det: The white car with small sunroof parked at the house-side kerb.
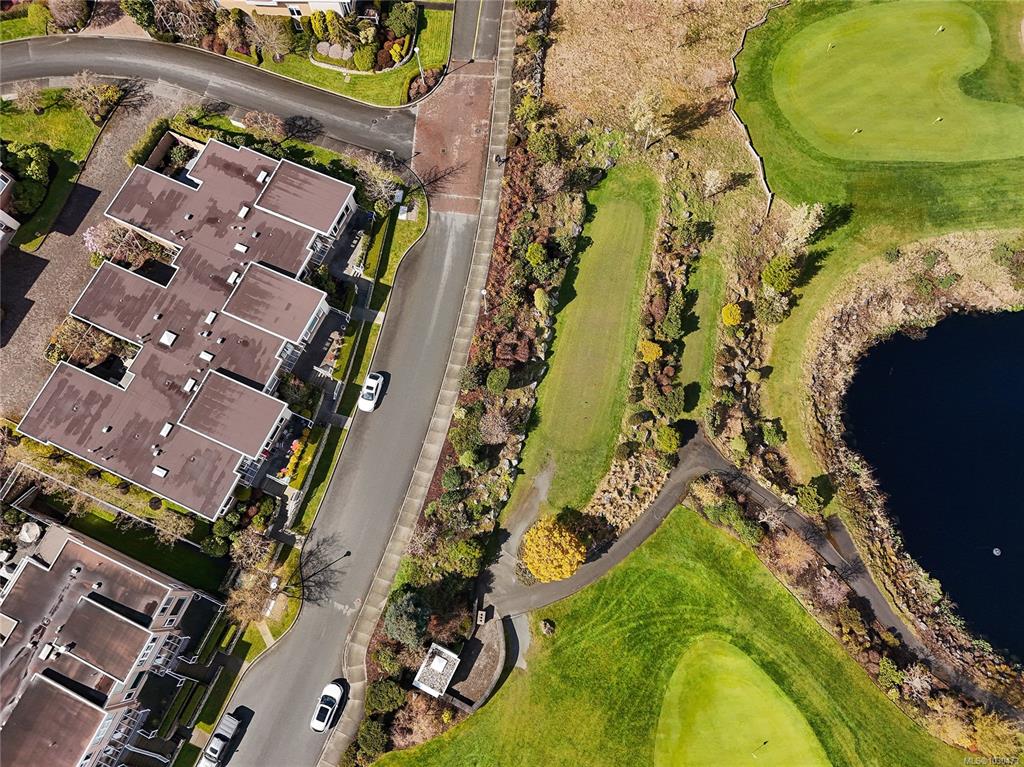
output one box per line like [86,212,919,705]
[358,370,383,411]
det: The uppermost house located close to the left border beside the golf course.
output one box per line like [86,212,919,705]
[15,139,361,523]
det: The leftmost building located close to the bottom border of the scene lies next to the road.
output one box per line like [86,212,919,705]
[0,532,195,767]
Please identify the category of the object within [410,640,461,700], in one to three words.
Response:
shed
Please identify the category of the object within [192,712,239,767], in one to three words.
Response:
truck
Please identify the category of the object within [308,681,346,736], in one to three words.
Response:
car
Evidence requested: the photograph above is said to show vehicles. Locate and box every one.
[358,370,383,411]
[192,712,239,767]
[308,681,346,736]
